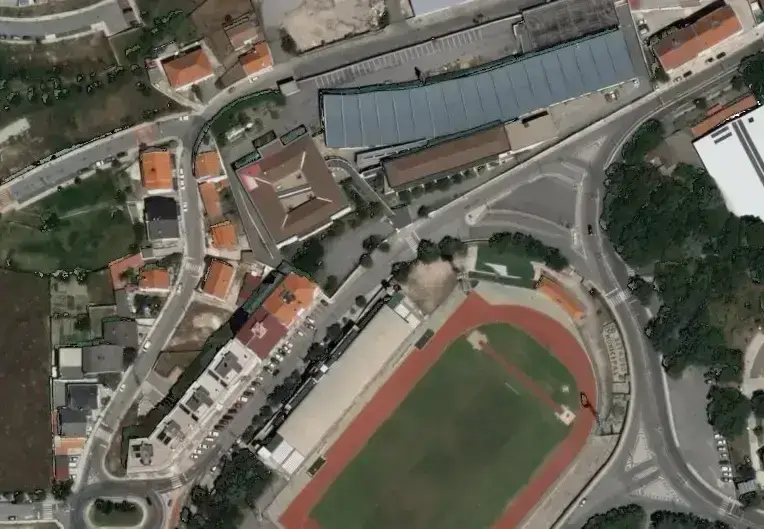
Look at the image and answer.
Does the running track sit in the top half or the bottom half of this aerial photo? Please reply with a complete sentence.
You can find the running track in the bottom half.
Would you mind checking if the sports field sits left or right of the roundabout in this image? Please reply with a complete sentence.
It is on the right side of the roundabout that the sports field is positioned.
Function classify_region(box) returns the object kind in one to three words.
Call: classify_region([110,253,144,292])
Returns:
building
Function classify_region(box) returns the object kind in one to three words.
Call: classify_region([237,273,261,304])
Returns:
shed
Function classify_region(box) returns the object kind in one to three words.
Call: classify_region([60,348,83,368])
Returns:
building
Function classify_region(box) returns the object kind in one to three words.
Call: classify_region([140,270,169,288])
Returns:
house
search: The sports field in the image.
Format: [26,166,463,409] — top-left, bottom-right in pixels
[301,323,578,529]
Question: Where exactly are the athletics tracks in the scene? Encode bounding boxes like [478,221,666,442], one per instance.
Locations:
[270,292,598,529]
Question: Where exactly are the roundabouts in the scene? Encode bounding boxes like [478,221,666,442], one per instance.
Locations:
[87,497,146,529]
